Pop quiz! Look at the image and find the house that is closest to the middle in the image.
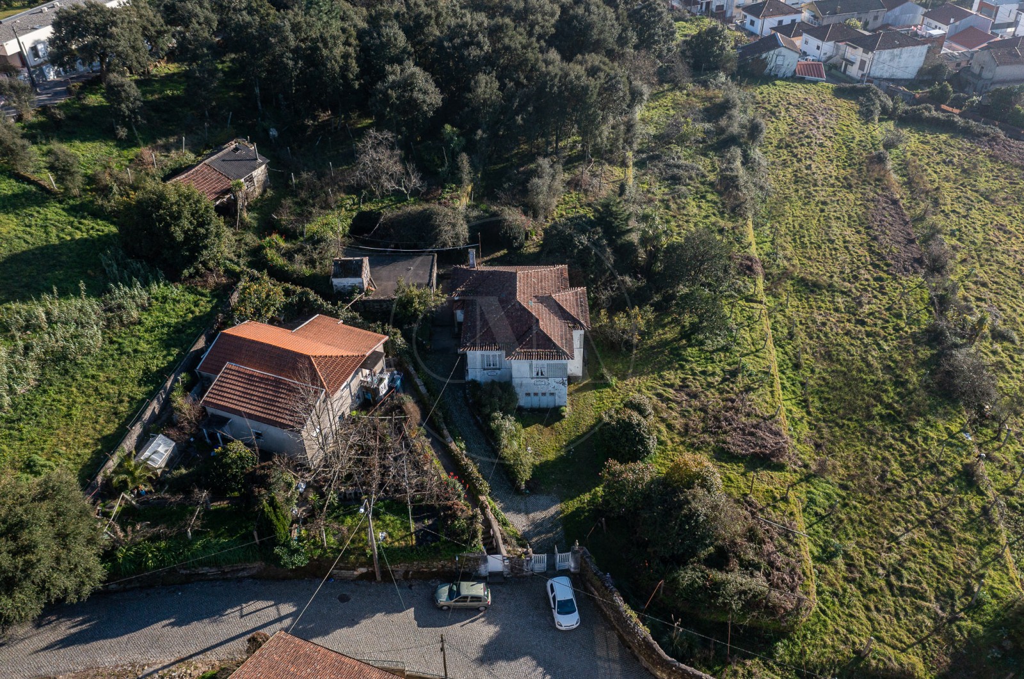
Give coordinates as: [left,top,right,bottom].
[442,249,593,410]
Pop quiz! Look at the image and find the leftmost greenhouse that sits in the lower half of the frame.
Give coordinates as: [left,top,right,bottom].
[141,433,178,476]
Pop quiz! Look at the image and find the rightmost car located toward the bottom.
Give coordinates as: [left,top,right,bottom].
[546,574,579,630]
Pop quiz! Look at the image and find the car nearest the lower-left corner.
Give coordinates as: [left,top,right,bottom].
[435,578,492,610]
